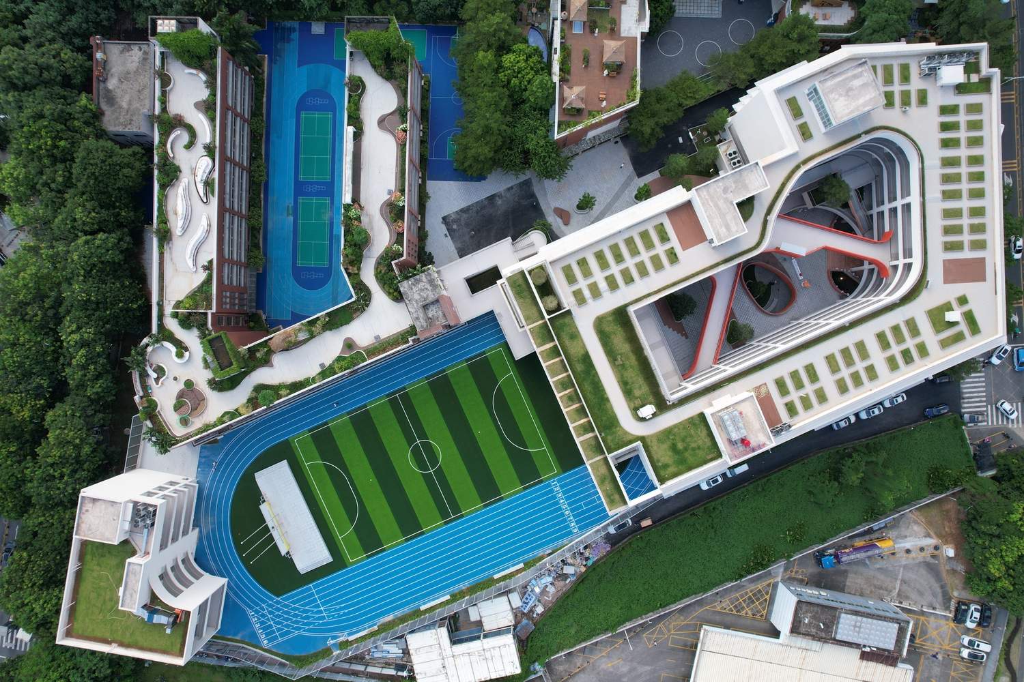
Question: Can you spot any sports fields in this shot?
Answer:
Yes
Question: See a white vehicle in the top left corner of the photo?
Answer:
No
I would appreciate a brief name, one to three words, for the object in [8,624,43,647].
truck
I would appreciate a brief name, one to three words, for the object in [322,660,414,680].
shed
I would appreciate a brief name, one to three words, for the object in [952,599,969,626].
car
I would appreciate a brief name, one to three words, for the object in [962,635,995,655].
vehicle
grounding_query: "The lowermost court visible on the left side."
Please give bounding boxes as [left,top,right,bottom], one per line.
[297,197,330,267]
